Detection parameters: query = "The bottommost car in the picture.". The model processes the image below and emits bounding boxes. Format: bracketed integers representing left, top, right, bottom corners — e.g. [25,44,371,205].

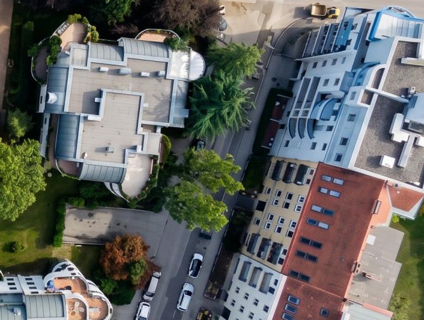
[133,300,150,320]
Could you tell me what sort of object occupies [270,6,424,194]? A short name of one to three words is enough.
building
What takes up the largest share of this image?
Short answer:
buildings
